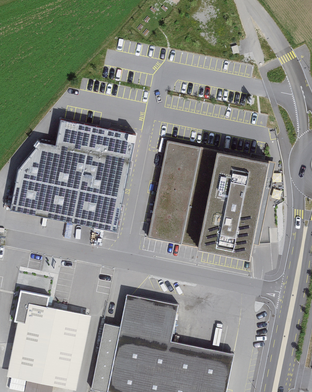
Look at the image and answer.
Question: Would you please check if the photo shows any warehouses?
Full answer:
Yes, a warehouse can be made out from above.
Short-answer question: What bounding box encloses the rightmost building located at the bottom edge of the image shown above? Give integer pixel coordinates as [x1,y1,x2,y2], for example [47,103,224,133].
[108,295,234,392]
